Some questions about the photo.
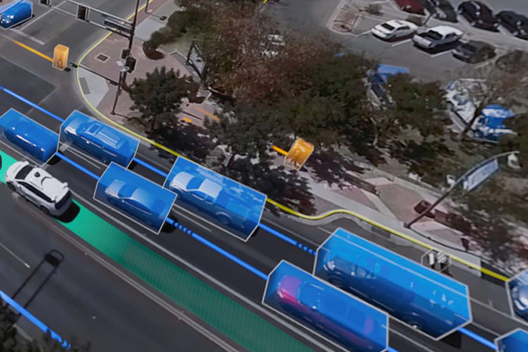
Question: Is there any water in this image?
No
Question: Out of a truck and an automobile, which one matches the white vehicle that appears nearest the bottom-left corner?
automobile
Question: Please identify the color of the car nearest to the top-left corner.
blue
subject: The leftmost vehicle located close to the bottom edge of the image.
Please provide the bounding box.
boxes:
[277,282,386,352]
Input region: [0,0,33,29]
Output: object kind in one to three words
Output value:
car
